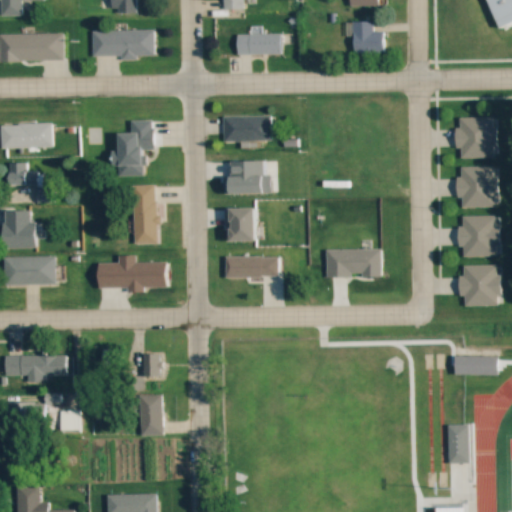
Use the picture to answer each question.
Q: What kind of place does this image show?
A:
residential area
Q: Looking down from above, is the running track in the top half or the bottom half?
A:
bottom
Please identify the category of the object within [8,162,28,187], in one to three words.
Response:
house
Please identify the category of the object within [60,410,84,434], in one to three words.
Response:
building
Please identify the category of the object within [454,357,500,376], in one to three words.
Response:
building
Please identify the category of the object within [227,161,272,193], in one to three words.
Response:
house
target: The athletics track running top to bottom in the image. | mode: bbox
[476,370,512,512]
